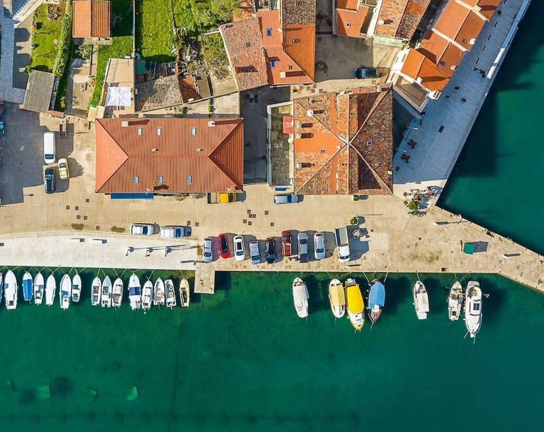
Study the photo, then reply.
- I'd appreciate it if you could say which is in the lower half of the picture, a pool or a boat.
boat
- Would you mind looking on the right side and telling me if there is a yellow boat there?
Yes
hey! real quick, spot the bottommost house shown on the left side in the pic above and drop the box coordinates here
[95,117,243,193]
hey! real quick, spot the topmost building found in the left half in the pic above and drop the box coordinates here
[72,0,112,37]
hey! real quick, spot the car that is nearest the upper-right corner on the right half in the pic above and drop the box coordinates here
[354,66,377,79]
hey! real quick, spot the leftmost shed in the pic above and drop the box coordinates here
[22,69,58,112]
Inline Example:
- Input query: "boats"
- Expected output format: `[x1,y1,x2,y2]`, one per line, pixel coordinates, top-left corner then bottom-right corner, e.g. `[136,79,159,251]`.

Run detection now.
[141,275,154,314]
[412,272,430,320]
[21,266,34,304]
[153,269,165,310]
[32,266,45,309]
[128,269,142,314]
[58,273,72,314]
[366,272,385,325]
[101,275,113,311]
[3,266,19,313]
[462,279,482,338]
[329,273,347,318]
[90,267,102,310]
[178,269,190,308]
[71,266,83,302]
[164,279,177,311]
[112,267,124,311]
[446,273,463,325]
[44,272,57,310]
[344,276,364,332]
[291,271,310,318]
